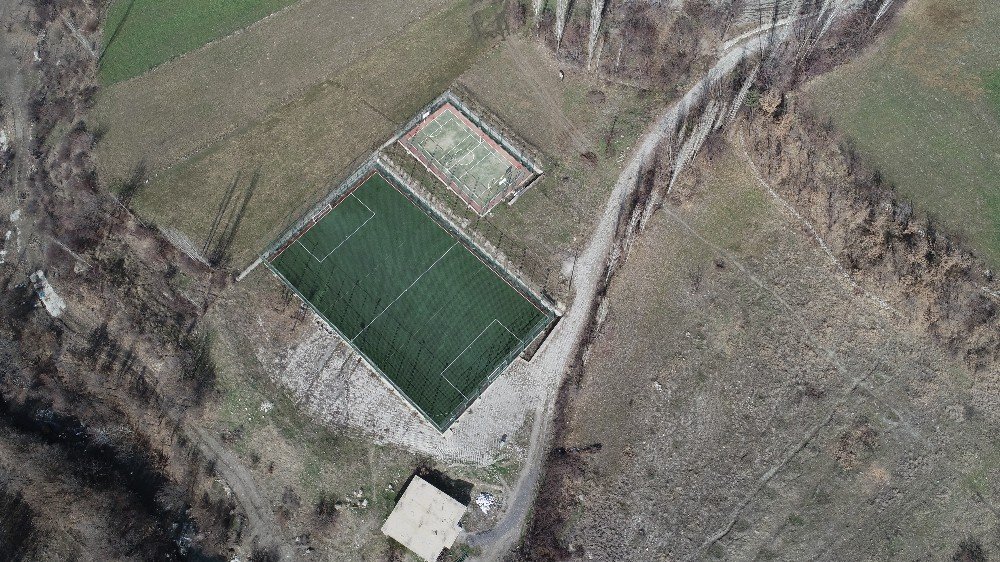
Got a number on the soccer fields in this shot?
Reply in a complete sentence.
I count 1 soccer field.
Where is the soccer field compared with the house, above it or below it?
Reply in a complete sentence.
In the image, the soccer field sits above the house.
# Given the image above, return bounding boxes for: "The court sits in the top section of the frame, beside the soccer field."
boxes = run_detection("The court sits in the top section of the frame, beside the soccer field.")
[398,102,533,217]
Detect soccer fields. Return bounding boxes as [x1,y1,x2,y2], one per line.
[268,167,556,434]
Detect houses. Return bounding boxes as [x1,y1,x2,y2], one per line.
[383,476,467,562]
